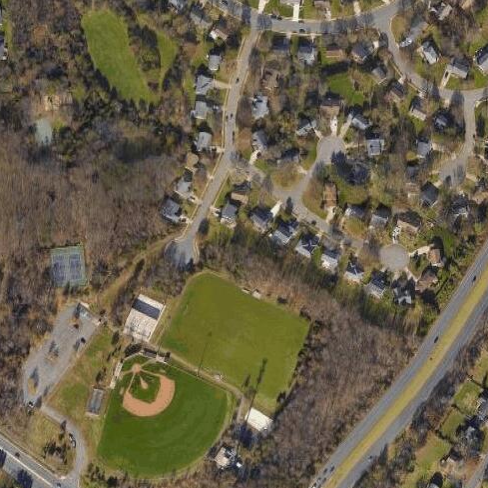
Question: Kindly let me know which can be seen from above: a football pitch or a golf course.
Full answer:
The image shows a football pitch.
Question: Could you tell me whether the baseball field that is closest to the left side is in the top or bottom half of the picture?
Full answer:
The baseball field that is closest to the left side is in the bottom half of the image.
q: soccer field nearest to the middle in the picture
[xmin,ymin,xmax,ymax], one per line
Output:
[162,269,310,413]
